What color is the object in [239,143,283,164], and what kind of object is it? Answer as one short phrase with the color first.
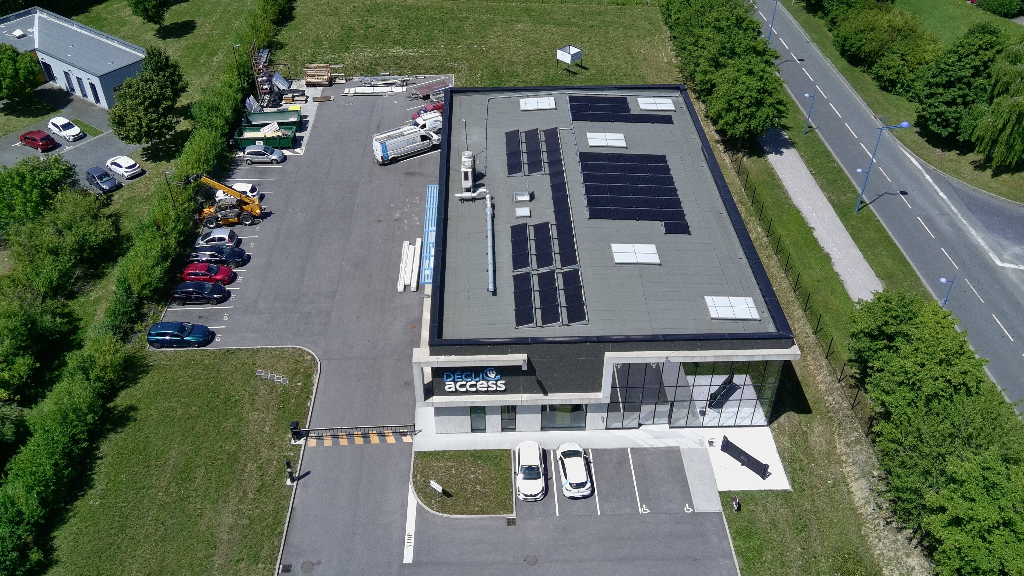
gray car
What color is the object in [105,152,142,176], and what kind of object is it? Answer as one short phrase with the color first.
white car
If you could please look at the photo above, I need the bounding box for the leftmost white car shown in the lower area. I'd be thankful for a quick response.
[514,441,547,501]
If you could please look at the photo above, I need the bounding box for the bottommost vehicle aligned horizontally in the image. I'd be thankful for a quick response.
[149,319,214,348]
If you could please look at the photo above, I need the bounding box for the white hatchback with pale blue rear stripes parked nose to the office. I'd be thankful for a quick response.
[557,443,592,499]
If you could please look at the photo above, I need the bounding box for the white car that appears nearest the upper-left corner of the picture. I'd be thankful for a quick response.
[48,114,85,139]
